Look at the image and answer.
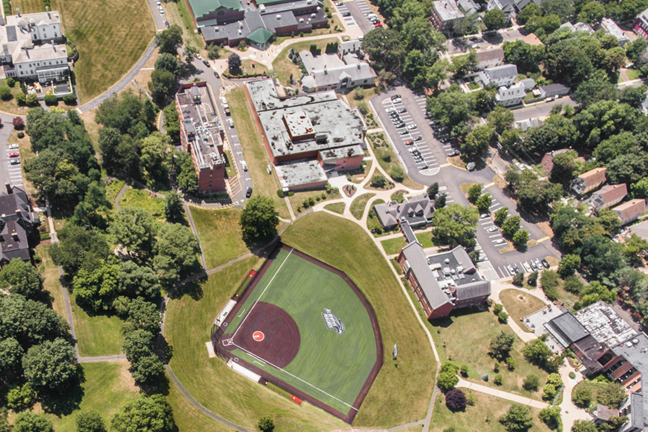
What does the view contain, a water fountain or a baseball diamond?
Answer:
baseball diamond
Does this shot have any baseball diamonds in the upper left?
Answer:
No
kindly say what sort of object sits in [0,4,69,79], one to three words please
house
